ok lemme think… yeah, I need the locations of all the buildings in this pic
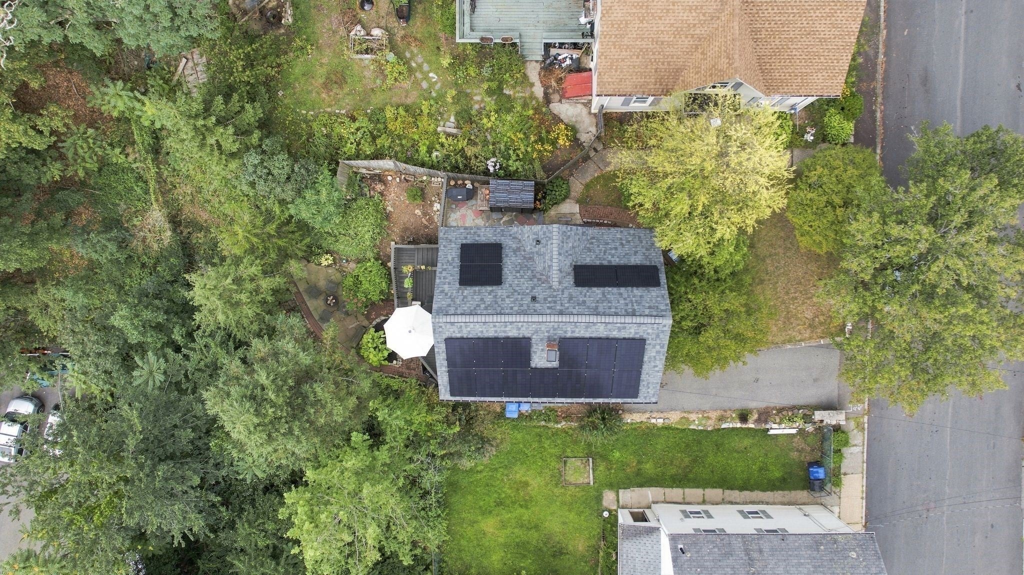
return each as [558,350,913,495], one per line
[652,502,887,575]
[489,180,535,211]
[431,222,672,405]
[592,0,867,124]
